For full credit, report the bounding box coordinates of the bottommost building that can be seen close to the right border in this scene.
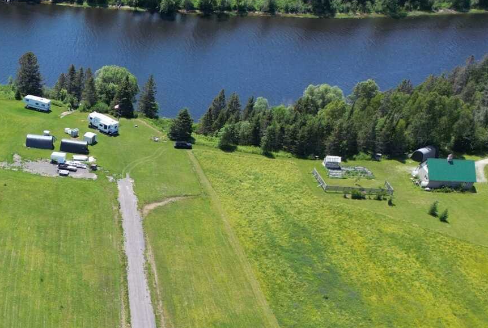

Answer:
[408,154,481,189]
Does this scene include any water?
Yes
